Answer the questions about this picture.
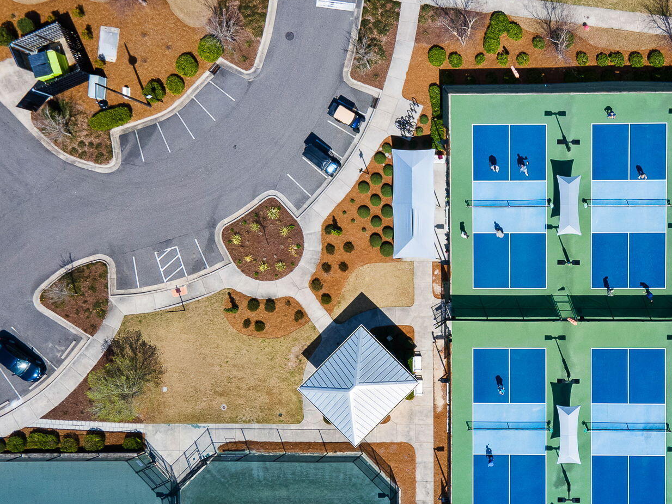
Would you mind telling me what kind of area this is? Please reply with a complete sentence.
This image shows a sports ground.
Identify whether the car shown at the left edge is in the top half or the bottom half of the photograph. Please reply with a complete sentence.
The car shown at the left edge sits in the bottom half of the picture.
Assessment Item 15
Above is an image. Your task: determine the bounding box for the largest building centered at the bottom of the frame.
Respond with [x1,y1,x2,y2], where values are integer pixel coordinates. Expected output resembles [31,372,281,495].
[296,324,420,448]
